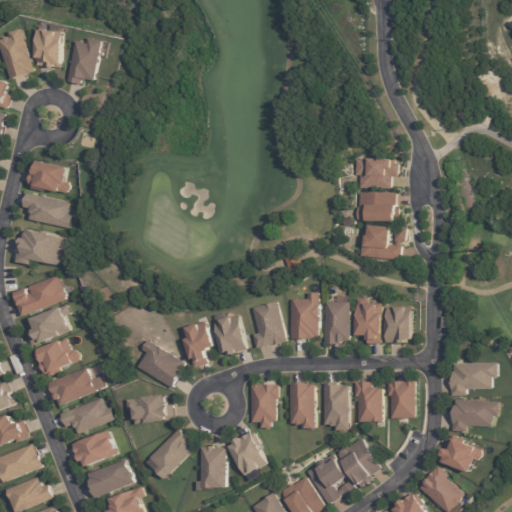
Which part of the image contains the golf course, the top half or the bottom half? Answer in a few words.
top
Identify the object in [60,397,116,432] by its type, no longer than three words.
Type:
house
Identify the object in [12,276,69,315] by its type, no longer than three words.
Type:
house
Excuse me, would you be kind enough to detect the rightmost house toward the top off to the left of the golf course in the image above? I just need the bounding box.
[68,40,102,83]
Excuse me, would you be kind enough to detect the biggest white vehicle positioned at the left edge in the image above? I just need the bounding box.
[10,356,24,375]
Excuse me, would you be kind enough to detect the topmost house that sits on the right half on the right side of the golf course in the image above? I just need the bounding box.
[356,158,402,189]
